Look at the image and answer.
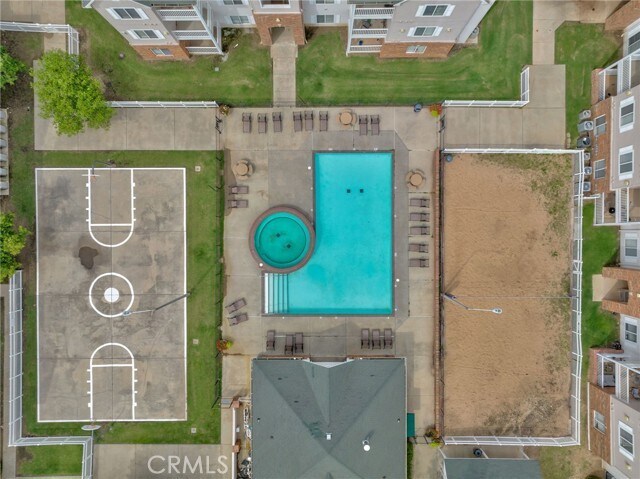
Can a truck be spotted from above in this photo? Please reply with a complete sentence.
No, this view has no truck in it.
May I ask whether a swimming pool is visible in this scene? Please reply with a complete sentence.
Yes, this view includes a swimming pool.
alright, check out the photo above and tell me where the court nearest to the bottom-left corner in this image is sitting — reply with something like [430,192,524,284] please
[35,167,188,421]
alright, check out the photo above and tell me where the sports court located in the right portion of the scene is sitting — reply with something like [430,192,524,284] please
[443,151,574,438]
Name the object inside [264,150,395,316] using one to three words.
swimming pool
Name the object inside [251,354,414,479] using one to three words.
building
